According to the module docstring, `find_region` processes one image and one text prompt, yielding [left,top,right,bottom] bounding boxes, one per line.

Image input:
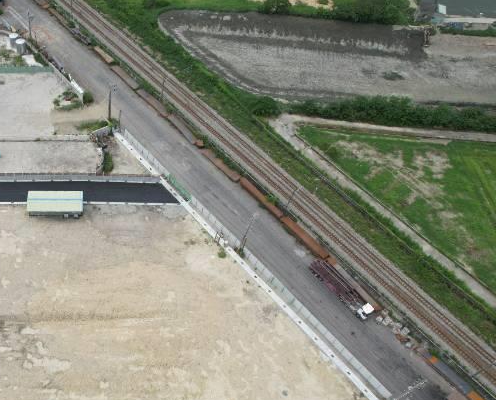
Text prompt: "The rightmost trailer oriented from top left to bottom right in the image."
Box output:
[416,347,475,398]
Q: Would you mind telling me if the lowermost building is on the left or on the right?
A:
left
